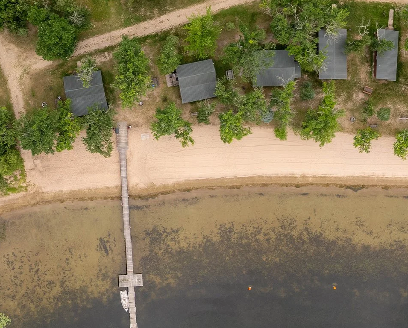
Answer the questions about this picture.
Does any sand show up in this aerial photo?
Yes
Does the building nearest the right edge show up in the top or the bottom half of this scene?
top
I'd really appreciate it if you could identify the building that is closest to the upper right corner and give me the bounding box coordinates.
[374,28,399,80]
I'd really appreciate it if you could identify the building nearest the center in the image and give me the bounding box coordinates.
[177,58,217,103]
